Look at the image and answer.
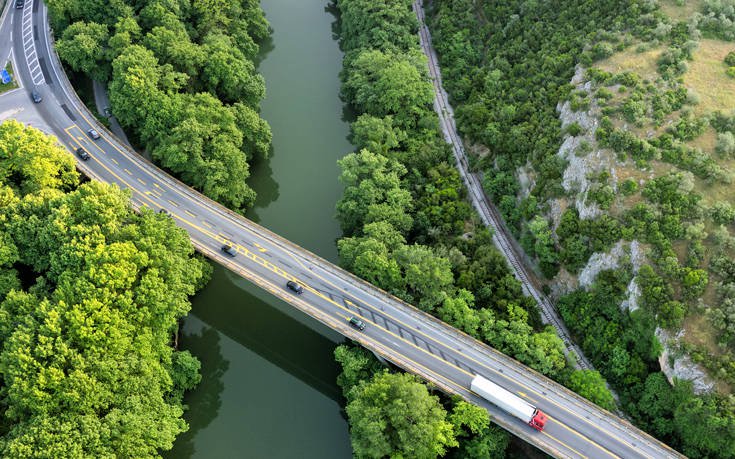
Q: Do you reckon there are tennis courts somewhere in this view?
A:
No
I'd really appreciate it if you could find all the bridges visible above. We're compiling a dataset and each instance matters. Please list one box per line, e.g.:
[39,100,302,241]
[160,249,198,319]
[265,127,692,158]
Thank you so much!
[52,116,699,459]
